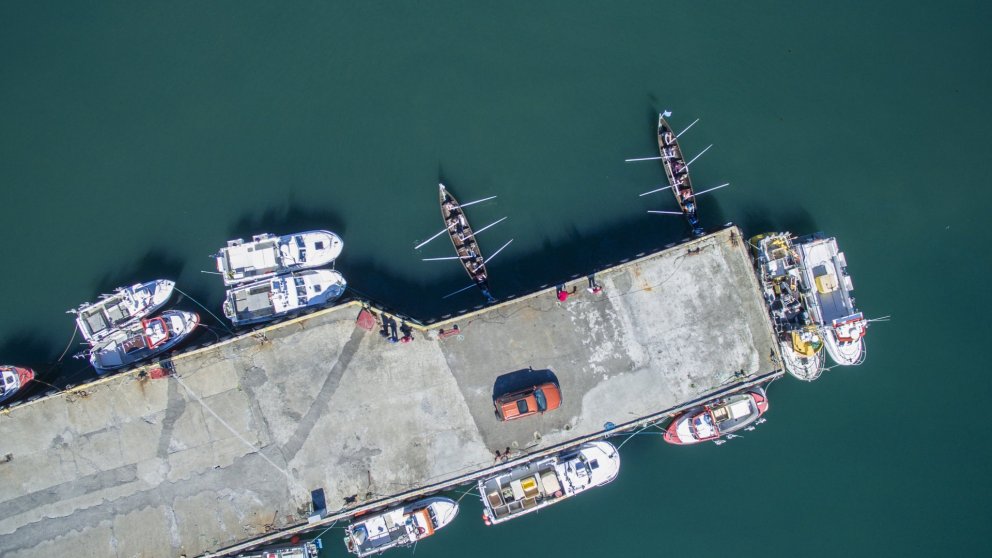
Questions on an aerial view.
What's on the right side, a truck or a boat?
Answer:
boat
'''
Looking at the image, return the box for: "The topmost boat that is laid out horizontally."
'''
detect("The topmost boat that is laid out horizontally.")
[201,230,346,285]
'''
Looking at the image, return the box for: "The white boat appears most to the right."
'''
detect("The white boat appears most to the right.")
[796,227,890,368]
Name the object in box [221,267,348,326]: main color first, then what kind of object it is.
white boat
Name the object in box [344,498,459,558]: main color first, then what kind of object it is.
white boat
